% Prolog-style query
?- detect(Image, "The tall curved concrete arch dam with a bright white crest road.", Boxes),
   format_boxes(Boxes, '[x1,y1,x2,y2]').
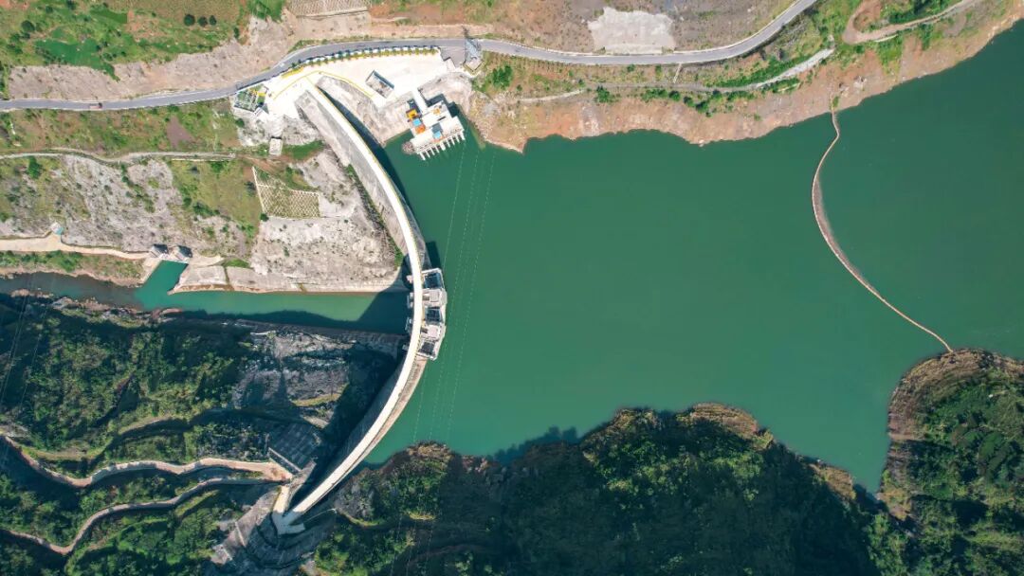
[281,65,449,527]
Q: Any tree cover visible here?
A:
Yes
